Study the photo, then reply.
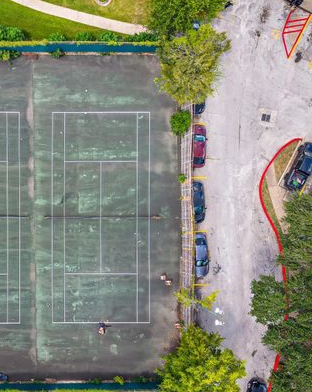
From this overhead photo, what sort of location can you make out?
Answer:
sports ground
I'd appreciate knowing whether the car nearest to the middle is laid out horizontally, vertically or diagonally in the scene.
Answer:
vertically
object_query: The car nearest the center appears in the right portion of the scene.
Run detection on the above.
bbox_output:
[188,181,209,224]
